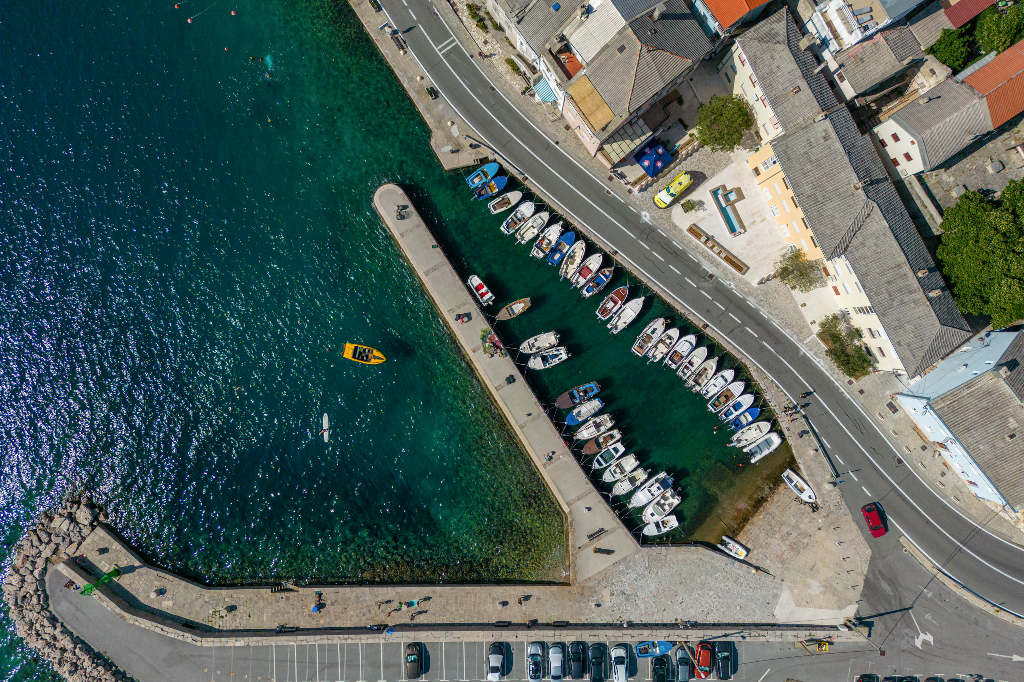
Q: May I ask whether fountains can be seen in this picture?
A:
Yes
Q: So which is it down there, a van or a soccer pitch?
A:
van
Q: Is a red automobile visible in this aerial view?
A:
Yes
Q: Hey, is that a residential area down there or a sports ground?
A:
residential area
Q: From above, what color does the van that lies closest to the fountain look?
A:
yellow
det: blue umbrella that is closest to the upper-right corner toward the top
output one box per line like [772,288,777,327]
[633,138,673,177]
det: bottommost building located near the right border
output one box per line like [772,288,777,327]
[902,330,1024,516]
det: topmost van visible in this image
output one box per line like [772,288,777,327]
[654,166,696,211]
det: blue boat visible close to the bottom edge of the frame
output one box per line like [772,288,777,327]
[634,641,673,660]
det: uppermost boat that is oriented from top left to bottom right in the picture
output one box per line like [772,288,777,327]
[468,274,497,309]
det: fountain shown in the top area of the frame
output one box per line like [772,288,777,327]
[708,185,745,237]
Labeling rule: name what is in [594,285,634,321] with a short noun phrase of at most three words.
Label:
boat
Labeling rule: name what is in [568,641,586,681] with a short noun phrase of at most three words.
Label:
car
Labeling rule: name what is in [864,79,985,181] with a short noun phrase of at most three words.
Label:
house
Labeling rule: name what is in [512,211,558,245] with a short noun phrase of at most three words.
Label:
boat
